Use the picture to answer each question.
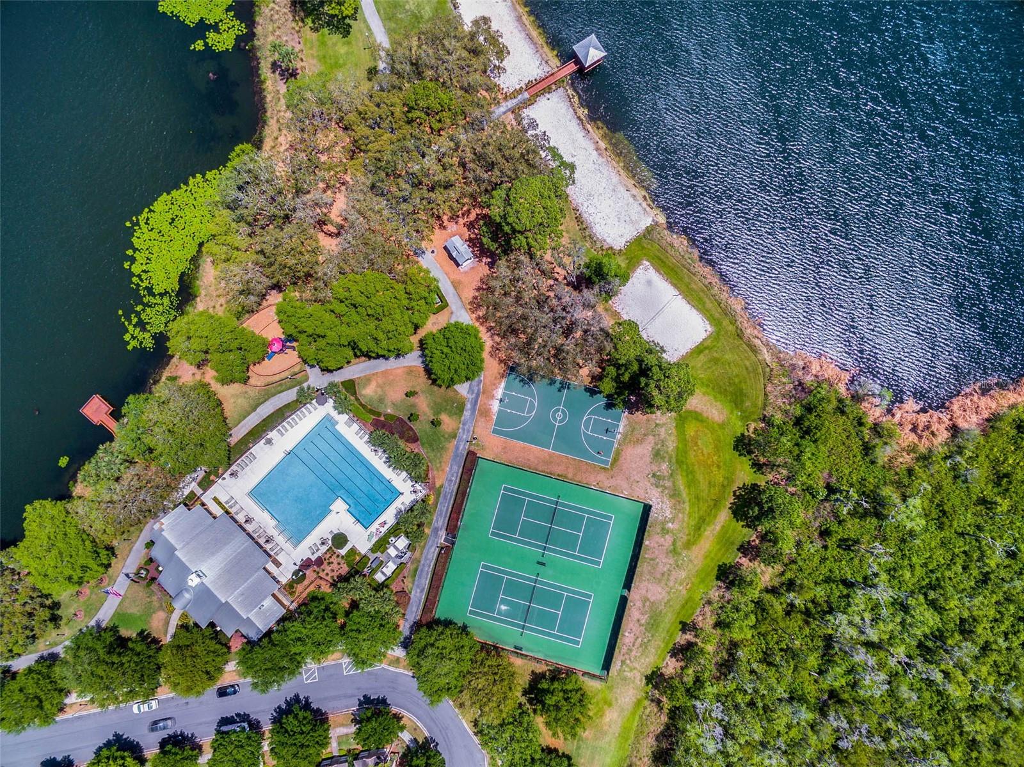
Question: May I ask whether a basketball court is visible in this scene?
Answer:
Yes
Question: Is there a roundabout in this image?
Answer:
No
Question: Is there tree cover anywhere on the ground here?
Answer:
Yes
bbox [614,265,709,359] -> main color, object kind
white sports court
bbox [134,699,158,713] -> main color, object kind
white car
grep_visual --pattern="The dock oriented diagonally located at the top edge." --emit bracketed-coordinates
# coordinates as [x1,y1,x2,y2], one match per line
[526,35,606,96]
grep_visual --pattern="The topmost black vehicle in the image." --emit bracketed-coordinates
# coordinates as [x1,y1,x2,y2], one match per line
[218,683,240,698]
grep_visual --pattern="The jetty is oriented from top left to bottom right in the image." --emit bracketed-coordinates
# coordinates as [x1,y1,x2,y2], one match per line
[78,394,128,437]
